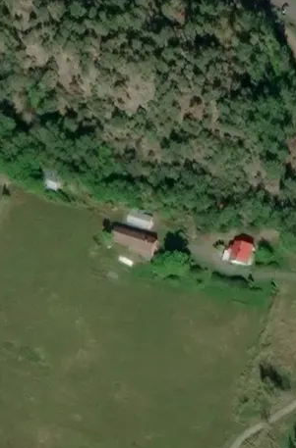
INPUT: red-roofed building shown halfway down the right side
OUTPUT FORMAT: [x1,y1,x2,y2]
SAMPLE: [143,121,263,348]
[225,232,256,263]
